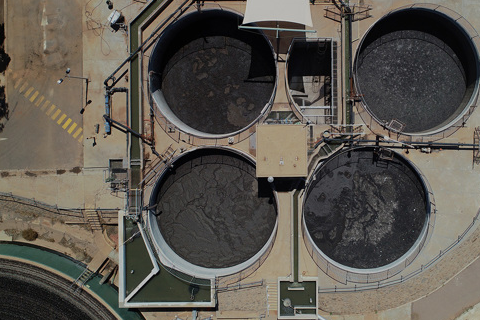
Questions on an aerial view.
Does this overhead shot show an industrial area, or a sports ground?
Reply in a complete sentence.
This looks like an industrial area.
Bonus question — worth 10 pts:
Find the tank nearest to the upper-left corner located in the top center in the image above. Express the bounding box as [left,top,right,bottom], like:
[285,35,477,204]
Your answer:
[144,5,277,137]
